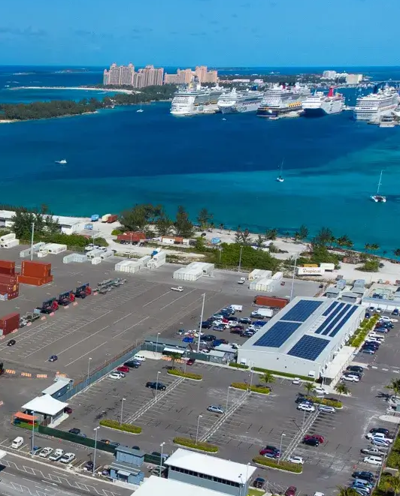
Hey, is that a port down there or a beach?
port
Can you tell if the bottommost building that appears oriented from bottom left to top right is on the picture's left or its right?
left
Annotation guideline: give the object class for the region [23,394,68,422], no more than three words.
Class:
building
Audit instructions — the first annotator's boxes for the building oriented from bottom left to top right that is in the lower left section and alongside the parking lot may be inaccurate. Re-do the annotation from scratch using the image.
[39,371,72,396]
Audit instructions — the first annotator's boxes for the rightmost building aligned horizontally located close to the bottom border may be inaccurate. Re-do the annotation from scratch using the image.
[161,448,264,496]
